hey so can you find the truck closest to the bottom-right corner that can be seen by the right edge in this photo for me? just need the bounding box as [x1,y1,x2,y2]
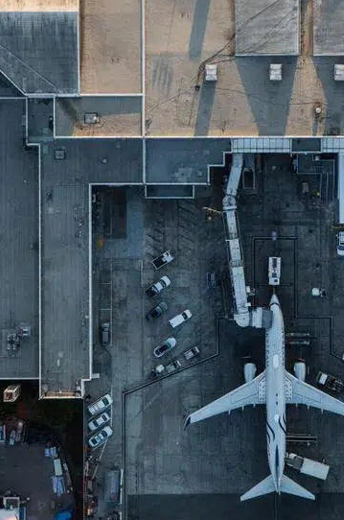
[284,454,329,484]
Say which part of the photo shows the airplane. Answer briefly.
bottom right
